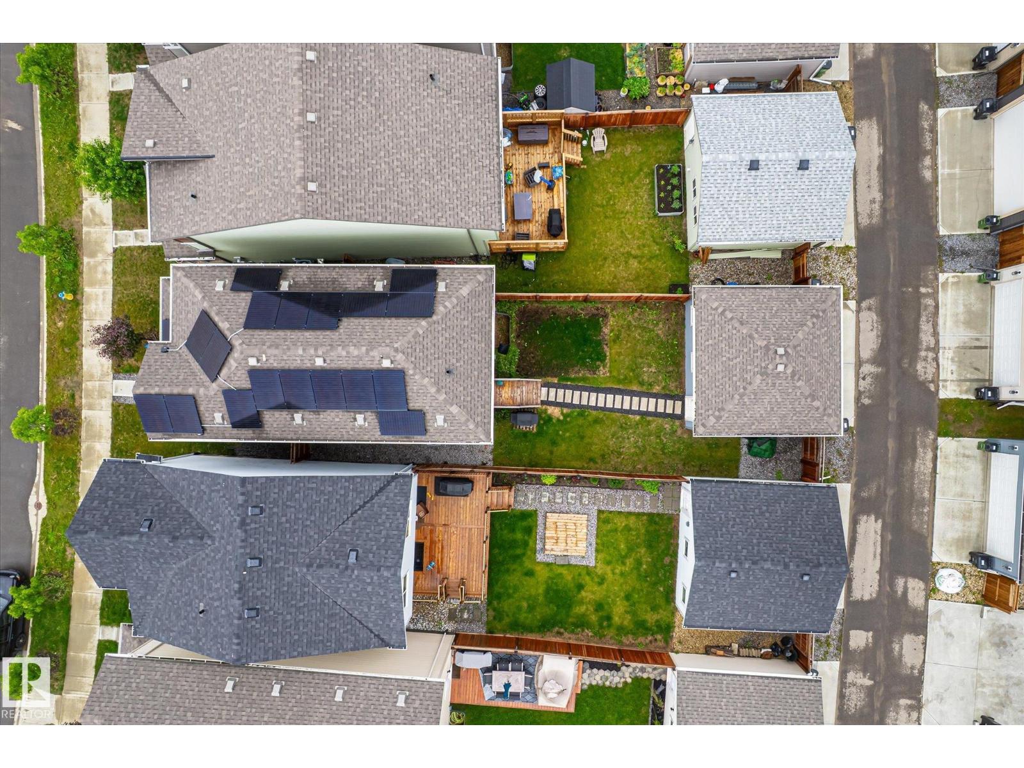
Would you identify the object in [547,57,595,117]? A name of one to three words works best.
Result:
shed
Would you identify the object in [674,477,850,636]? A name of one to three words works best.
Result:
building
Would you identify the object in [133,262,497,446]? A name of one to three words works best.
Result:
house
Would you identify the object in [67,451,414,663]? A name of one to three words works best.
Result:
house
